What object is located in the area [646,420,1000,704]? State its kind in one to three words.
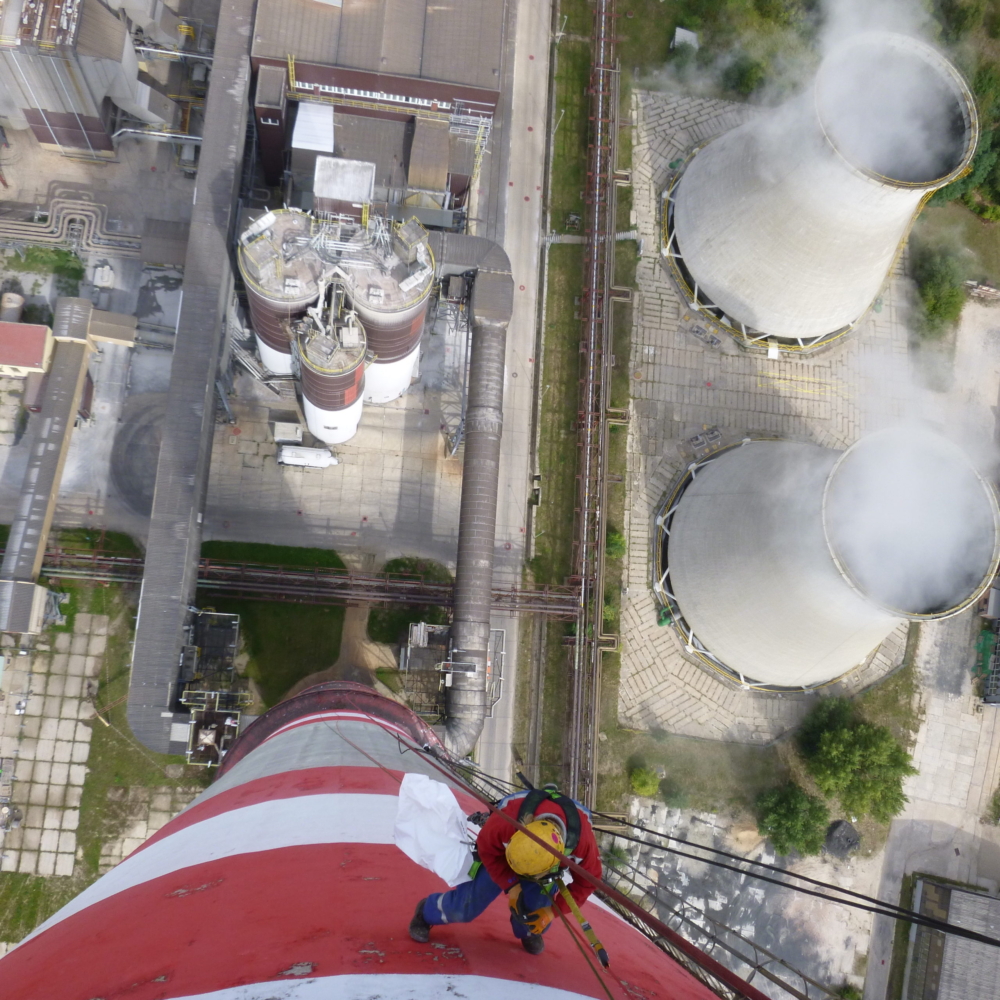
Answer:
cooling tower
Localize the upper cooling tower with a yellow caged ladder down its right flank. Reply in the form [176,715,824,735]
[654,21,994,358]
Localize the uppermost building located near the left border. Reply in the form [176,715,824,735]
[0,0,205,161]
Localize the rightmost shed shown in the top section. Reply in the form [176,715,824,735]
[670,28,698,61]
